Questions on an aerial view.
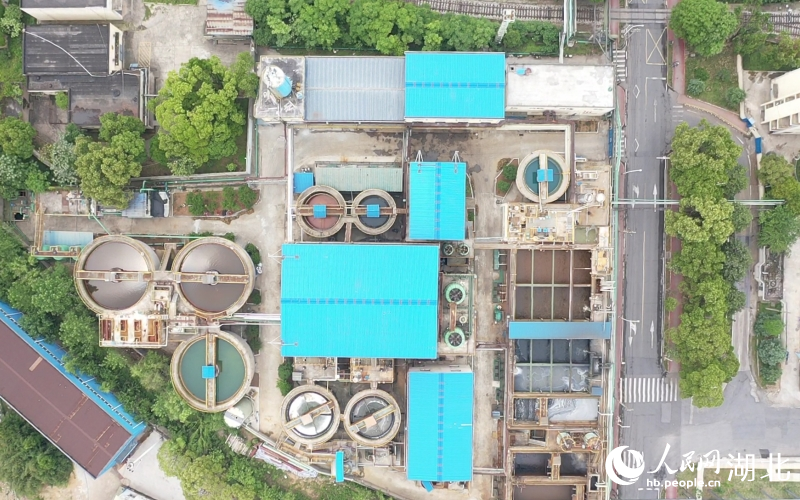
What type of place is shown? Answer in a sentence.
The picture captures an industrial area.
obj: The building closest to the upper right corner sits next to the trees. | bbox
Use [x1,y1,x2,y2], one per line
[762,66,800,133]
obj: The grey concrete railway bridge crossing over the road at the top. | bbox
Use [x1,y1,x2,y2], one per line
[603,7,682,27]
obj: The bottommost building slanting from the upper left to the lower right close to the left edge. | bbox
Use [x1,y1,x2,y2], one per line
[0,305,144,481]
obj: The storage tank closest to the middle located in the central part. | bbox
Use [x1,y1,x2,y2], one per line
[351,188,398,235]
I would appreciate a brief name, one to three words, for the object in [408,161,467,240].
building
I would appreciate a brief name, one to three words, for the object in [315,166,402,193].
shed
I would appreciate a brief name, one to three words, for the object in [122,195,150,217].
shed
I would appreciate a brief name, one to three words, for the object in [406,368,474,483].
building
